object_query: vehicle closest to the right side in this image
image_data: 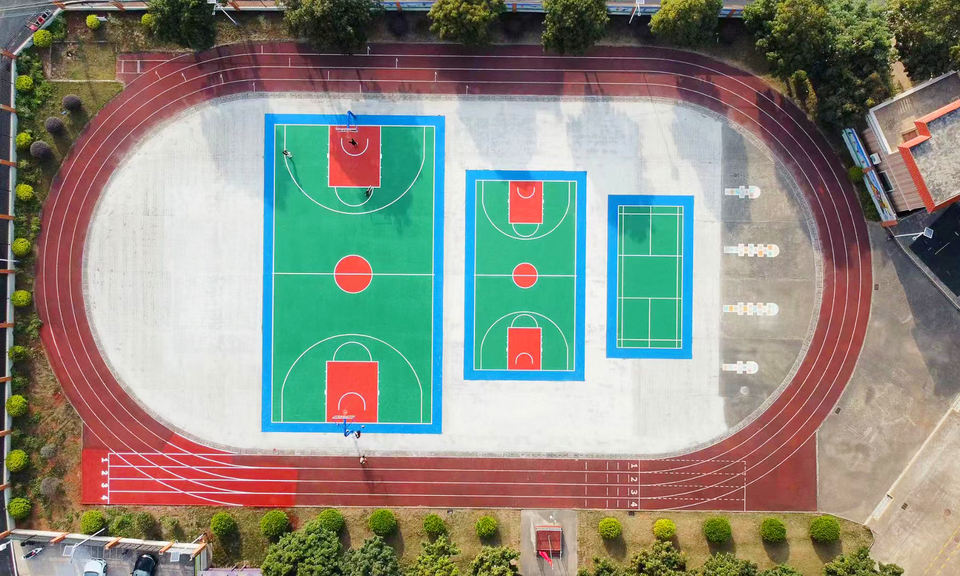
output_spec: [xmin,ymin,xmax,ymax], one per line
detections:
[132,552,160,576]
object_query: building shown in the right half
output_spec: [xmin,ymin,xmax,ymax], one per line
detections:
[844,63,960,217]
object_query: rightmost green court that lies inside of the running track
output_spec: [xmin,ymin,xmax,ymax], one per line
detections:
[607,195,694,358]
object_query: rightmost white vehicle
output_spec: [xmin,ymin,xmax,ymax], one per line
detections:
[81,555,110,576]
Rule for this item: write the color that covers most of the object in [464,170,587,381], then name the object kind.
green basketball court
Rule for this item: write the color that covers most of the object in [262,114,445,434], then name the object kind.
green basketball court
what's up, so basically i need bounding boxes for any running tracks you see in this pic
[31,40,874,513]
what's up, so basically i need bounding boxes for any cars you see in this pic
[132,552,160,576]
[81,555,110,576]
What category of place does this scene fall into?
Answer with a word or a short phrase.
sports ground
